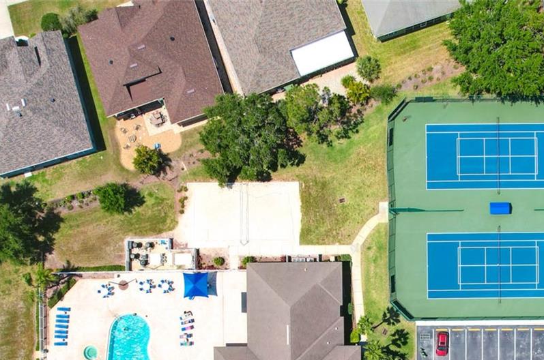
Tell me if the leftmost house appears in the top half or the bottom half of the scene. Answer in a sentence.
The leftmost house is in the top half of the image.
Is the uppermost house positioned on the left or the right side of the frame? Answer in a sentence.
The uppermost house sits on the right side.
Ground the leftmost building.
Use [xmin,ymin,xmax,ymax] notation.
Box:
[0,26,97,176]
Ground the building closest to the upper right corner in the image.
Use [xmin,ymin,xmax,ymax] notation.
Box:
[364,0,458,43]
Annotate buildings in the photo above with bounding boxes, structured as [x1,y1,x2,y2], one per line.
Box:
[0,26,97,176]
[79,0,226,133]
[209,0,355,98]
[214,262,362,360]
[364,0,458,43]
